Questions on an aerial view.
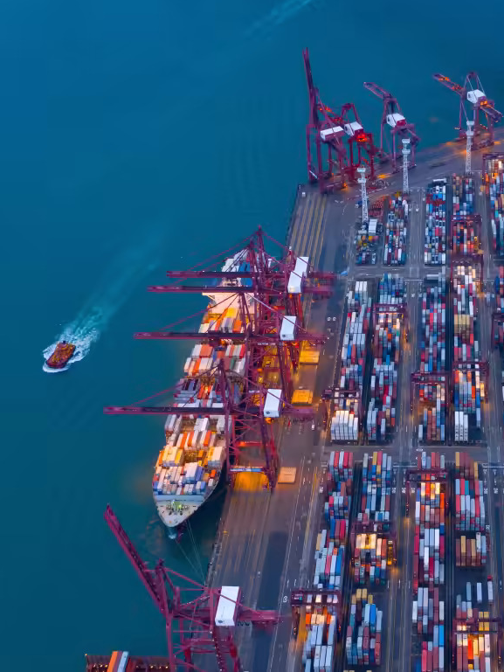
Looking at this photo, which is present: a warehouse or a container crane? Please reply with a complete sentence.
Of the two, only a container crane appears.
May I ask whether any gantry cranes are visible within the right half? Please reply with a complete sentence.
Yes, you'll find a gantry crane within the right half.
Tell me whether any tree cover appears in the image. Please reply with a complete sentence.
No, the scene doesn't show any tree cover.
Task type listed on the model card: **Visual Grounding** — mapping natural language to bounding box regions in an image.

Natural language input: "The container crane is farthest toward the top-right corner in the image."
[431,69,498,151]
